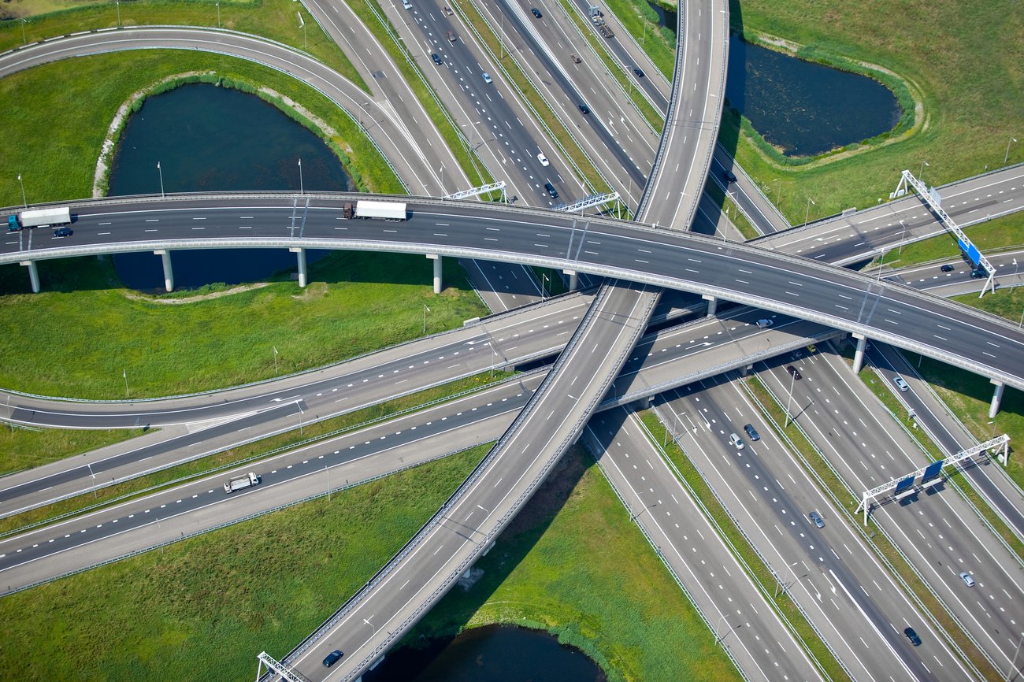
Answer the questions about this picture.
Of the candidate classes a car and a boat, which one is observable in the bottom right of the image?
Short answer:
car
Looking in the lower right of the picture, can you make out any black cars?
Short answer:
Yes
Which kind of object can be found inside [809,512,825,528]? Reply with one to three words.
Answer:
car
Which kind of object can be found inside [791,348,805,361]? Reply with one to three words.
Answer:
vehicle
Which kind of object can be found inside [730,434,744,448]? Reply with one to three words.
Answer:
car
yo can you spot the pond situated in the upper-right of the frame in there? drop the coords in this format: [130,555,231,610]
[723,35,901,156]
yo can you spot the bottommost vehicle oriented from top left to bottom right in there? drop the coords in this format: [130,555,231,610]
[904,627,921,646]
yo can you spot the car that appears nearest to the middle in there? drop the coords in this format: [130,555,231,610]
[545,183,558,197]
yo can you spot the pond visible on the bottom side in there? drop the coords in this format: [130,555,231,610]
[354,624,605,682]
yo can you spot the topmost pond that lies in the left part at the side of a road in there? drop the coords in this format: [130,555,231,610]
[107,83,352,292]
